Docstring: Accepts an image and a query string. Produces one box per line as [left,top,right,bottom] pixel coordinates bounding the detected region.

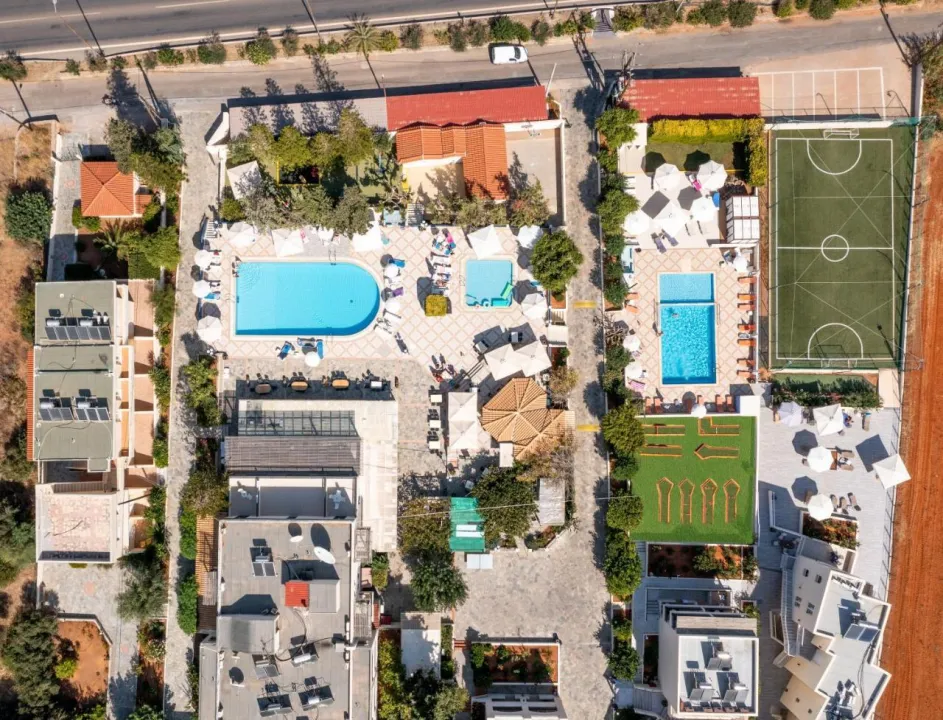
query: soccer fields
[769,113,933,371]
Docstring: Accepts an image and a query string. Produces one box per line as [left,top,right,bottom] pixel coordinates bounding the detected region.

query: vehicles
[491,41,528,63]
[99,93,114,103]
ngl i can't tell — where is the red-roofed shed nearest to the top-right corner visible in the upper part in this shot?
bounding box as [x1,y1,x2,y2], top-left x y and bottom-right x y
[626,77,760,128]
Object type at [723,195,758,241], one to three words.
building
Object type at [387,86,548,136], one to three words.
shed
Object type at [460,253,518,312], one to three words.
swimming pool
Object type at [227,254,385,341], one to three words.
swimming pool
